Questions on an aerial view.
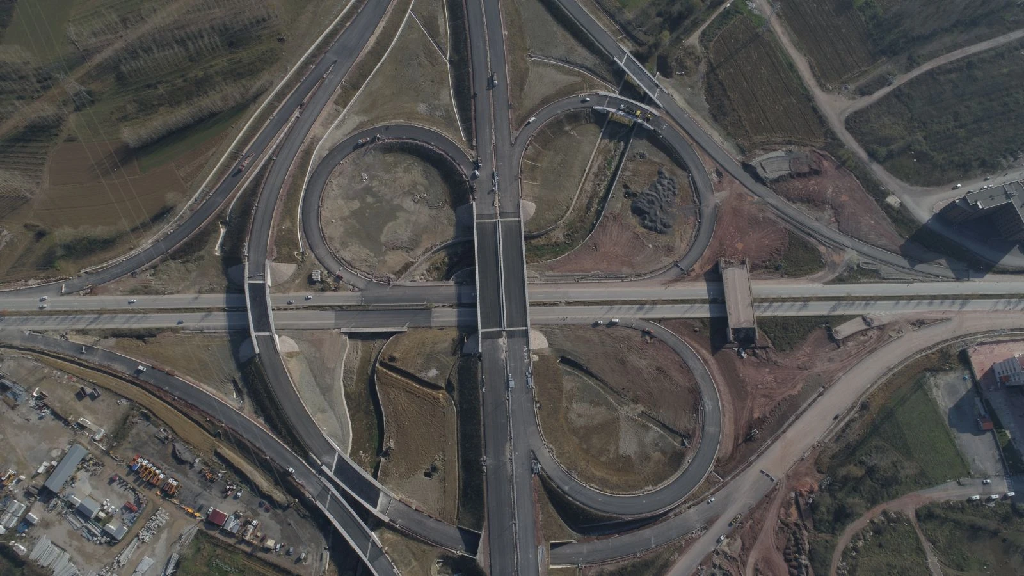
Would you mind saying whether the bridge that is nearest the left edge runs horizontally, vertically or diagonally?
vertically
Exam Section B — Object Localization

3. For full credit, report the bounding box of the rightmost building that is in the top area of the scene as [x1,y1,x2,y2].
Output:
[943,179,1024,243]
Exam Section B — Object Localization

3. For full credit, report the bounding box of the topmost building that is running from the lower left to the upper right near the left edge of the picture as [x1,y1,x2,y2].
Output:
[44,445,94,493]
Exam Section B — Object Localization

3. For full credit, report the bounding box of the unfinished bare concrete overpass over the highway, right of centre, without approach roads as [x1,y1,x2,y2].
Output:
[715,259,758,347]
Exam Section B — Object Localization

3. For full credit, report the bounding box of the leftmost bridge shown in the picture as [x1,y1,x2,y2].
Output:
[245,260,281,354]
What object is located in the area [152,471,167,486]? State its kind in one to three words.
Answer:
vehicle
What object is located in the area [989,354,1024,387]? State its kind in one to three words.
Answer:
building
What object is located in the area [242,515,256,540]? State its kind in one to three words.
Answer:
vehicle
